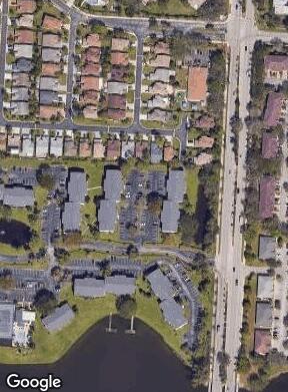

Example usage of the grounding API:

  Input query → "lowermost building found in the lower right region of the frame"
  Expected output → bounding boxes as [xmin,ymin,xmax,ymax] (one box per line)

[255,328,269,356]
